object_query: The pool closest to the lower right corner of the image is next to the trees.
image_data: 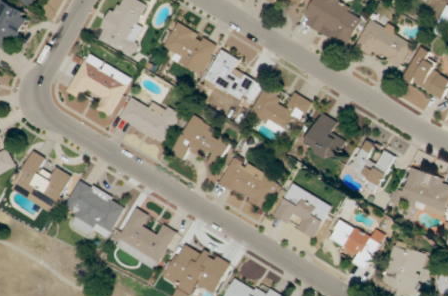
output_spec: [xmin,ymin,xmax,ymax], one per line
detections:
[416,210,448,232]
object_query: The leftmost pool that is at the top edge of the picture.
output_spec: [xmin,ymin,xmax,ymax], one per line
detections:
[153,4,173,28]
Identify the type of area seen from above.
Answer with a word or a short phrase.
residential area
